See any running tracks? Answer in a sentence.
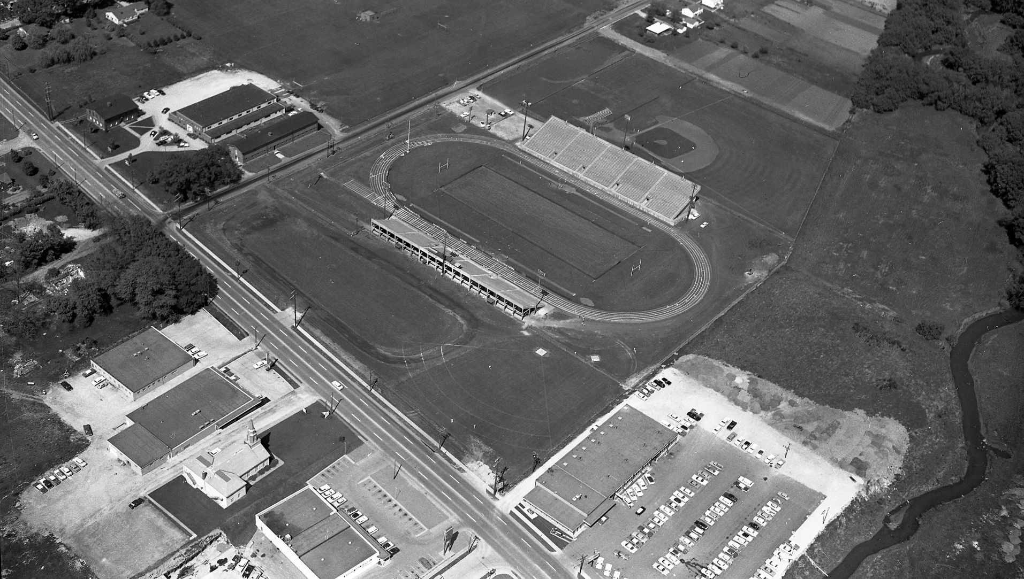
Yes, there is a running track in the image.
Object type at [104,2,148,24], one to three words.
house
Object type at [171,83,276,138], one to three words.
building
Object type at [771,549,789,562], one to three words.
vehicle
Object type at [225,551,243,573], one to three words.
vehicle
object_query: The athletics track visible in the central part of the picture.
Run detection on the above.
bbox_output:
[370,134,712,324]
